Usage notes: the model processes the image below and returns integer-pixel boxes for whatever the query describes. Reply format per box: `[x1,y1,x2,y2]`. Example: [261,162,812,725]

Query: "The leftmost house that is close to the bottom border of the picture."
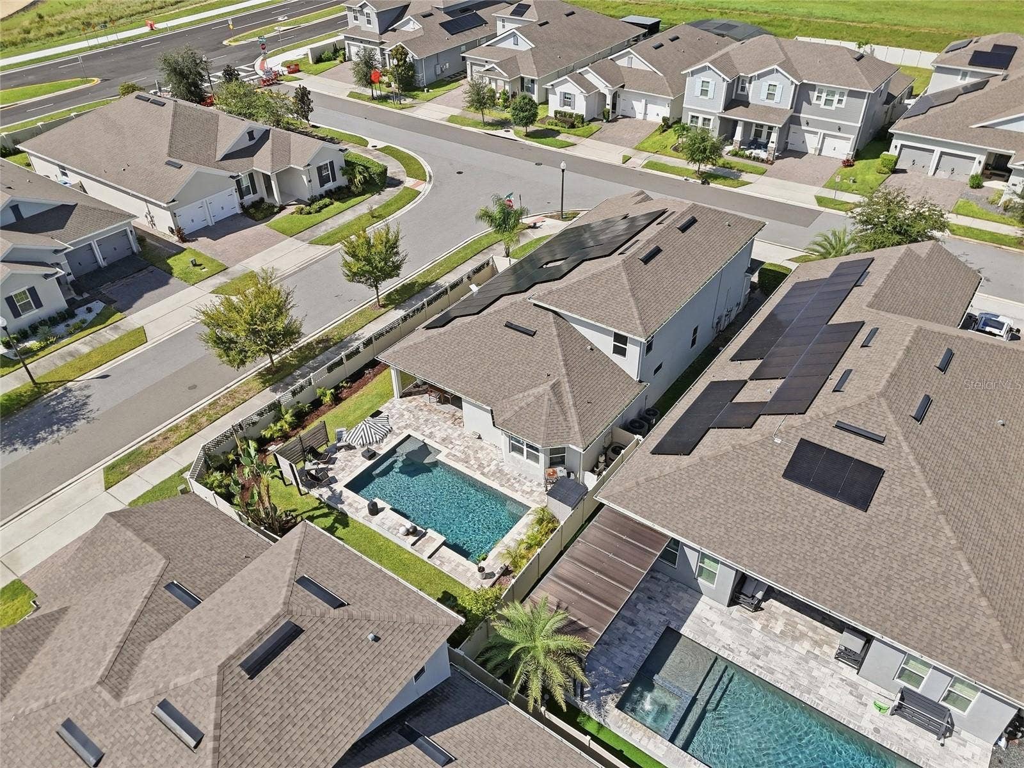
[0,484,604,768]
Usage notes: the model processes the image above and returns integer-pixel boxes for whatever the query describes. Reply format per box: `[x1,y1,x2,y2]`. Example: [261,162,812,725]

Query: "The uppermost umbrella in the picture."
[343,419,391,459]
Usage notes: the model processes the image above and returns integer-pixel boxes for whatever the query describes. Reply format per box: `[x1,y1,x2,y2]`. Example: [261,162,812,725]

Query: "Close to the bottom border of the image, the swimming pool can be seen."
[606,619,938,768]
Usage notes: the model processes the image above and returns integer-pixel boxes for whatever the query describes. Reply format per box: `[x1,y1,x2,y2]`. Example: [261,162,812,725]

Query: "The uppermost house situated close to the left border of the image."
[14,92,351,232]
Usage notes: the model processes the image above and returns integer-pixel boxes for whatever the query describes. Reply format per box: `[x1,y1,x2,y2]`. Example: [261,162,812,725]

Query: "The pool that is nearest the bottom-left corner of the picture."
[287,429,540,598]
